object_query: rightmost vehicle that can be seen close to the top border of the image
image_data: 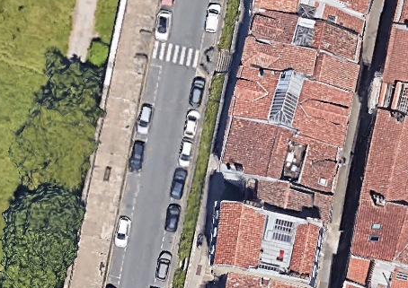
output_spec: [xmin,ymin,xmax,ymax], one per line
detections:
[203,1,224,37]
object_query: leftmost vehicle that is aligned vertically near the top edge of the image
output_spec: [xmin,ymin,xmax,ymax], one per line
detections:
[155,7,174,43]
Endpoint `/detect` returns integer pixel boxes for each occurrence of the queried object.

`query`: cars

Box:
[155,7,174,43]
[184,107,202,138]
[177,137,196,169]
[129,138,149,174]
[156,250,174,282]
[170,166,189,201]
[203,1,224,37]
[189,74,209,110]
[164,201,183,233]
[114,214,134,249]
[136,103,156,135]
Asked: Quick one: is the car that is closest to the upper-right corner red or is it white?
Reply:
white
